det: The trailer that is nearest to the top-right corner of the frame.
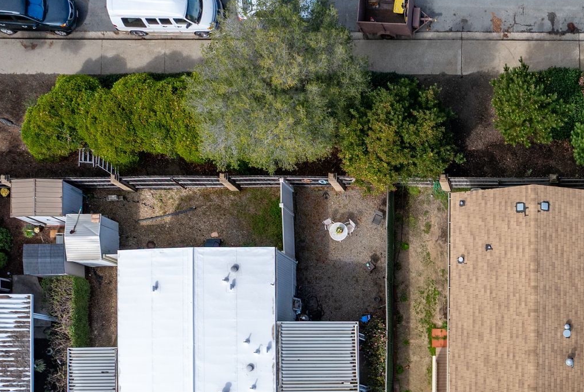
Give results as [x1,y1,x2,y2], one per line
[356,0,438,39]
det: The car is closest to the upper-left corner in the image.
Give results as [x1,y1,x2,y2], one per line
[0,0,82,37]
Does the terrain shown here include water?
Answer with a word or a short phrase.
No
